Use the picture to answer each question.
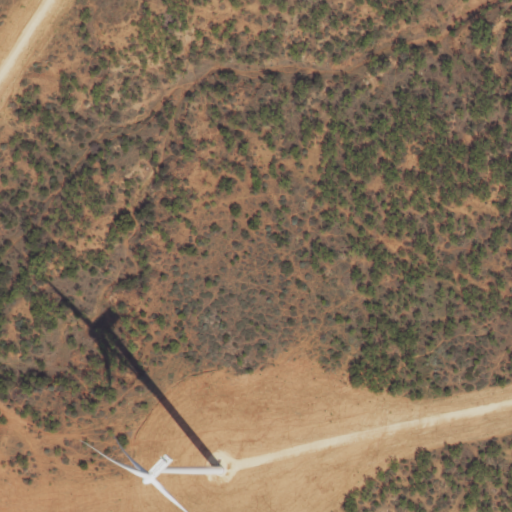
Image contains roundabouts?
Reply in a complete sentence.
No, no roundabout can be seen from above.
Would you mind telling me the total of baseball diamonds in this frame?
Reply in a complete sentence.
The photo contains no baseball diamonds.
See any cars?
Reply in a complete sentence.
No, there isn't any car down there.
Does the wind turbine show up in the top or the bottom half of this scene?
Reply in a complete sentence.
The bottom half of the photo is where the wind turbine is.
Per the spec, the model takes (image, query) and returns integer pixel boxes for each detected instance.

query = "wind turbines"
[78,436,225,512]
